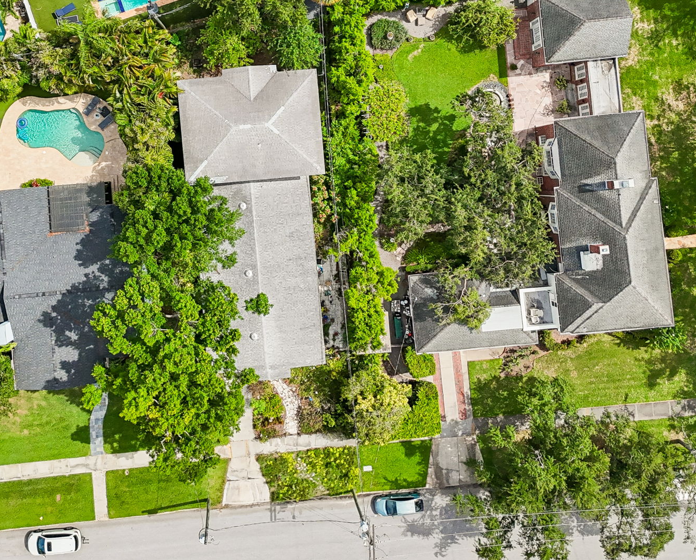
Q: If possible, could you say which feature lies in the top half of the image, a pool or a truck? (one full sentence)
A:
There is a pool in the top half of the image.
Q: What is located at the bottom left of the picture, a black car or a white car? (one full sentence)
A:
The feature located at the bottom left of the picture is a white car.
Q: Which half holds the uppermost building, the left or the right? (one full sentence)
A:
It is on the right.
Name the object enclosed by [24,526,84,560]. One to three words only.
car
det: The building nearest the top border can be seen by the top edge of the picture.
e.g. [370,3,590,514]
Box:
[525,0,634,65]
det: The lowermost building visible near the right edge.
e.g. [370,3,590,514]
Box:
[530,110,675,335]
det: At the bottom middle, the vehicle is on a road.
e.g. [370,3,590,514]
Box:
[373,490,423,520]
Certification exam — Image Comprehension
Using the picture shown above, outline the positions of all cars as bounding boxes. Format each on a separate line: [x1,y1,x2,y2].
[24,526,84,560]
[373,490,423,520]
